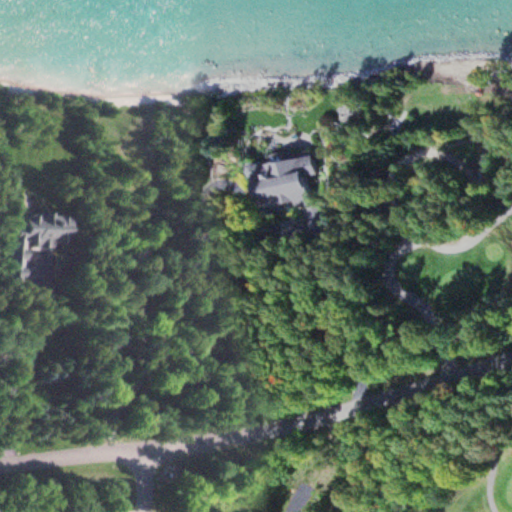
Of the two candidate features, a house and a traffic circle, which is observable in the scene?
house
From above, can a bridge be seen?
No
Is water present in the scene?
Yes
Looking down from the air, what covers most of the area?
trees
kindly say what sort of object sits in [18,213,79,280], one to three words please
house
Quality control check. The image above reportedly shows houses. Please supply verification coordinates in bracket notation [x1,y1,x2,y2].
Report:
[254,152,319,208]
[18,213,79,280]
